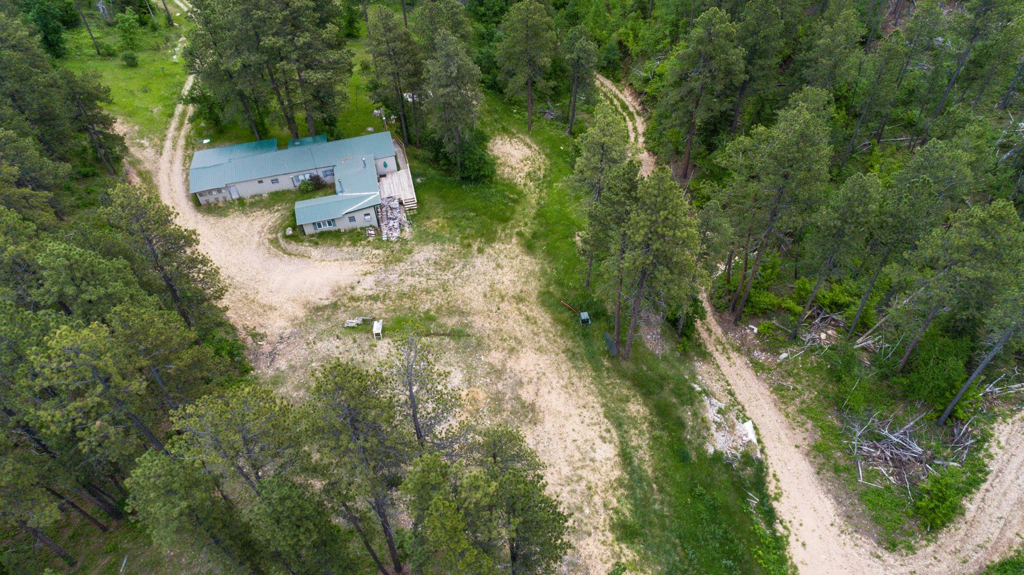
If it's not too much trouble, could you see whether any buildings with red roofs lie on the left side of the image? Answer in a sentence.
No, no building with a red roof appears on the left side of the image.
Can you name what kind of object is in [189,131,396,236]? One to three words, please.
house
